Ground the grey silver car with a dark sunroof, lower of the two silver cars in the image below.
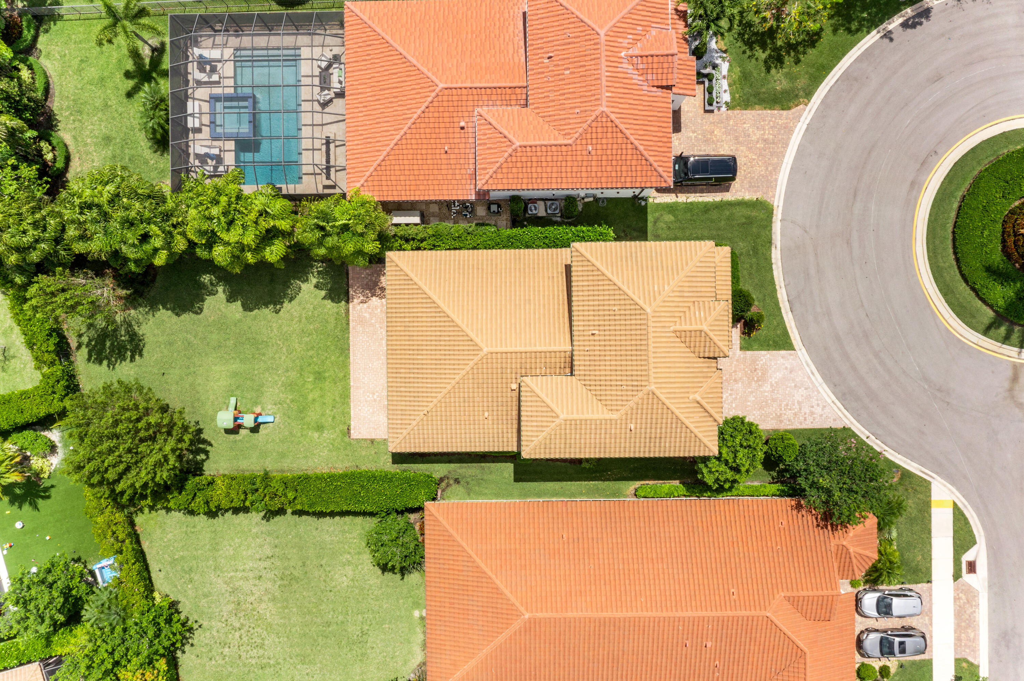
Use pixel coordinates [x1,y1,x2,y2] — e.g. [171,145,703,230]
[859,626,931,660]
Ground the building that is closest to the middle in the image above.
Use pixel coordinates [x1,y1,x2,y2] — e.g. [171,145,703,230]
[384,238,734,460]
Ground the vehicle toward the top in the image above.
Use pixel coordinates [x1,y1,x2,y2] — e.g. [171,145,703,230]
[674,152,737,185]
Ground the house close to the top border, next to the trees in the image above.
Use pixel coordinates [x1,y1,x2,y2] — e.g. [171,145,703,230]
[342,0,698,201]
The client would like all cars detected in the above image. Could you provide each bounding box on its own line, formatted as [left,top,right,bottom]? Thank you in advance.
[859,626,931,660]
[857,587,926,620]
[674,152,737,185]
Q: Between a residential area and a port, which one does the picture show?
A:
residential area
